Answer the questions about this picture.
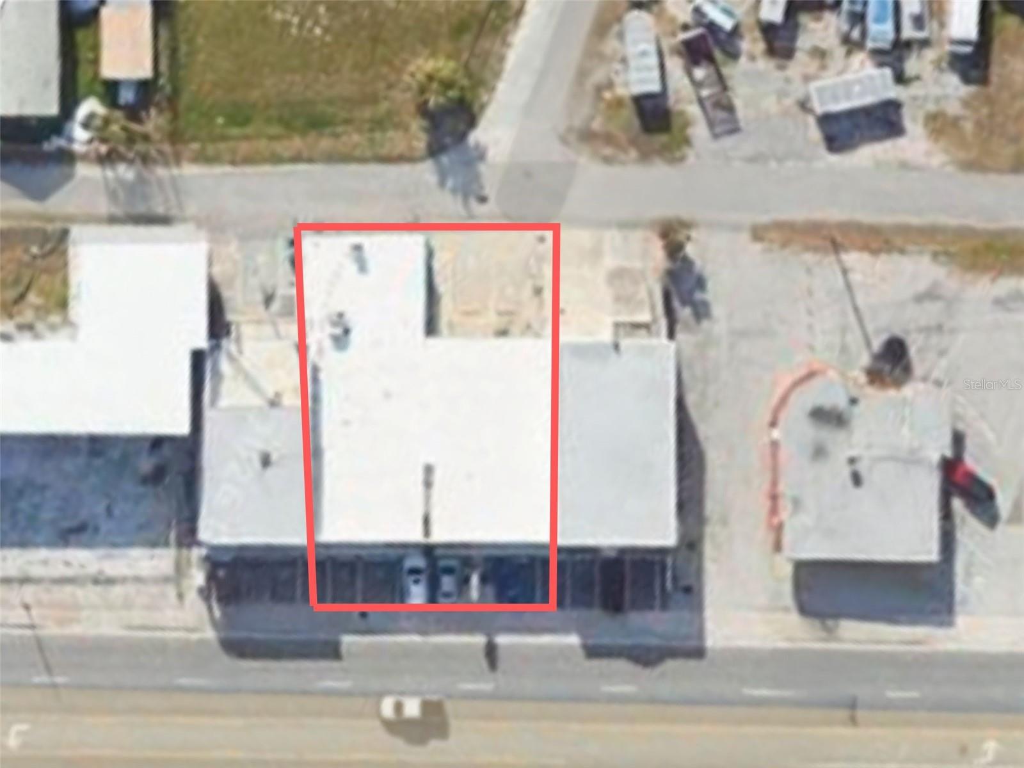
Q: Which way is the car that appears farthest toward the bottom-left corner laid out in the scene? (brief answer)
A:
up and down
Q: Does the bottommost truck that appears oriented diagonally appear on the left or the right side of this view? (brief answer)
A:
right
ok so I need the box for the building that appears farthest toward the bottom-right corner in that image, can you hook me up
[769,363,954,564]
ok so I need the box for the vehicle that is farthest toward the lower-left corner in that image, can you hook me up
[210,554,236,606]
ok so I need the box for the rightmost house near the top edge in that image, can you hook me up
[100,0,153,104]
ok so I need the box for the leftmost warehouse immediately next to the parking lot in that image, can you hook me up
[0,227,209,437]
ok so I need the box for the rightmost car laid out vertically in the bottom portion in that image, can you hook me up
[600,554,627,612]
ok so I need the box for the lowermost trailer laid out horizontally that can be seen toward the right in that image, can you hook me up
[800,69,894,112]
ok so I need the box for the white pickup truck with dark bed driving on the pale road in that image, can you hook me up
[380,696,445,722]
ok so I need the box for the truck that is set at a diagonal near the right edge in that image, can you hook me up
[942,453,998,518]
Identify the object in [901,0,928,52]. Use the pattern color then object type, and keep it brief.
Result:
white trailer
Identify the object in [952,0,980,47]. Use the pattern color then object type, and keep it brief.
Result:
white trailer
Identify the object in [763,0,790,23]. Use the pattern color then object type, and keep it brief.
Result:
white camper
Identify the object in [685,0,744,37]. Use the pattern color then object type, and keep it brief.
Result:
white vehicle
